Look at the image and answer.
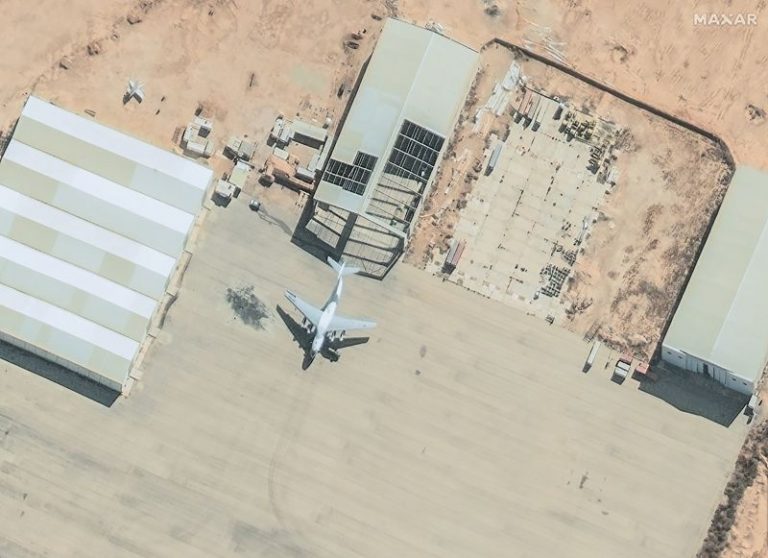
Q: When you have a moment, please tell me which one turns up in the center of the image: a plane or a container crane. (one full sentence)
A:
Visible in the center of the image is a plane.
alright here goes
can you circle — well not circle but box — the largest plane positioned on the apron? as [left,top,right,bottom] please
[286,256,377,362]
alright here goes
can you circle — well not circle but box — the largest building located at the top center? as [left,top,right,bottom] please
[314,17,479,249]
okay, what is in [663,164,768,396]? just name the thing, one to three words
hangar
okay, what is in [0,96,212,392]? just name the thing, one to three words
hangar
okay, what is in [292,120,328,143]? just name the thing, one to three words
shed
